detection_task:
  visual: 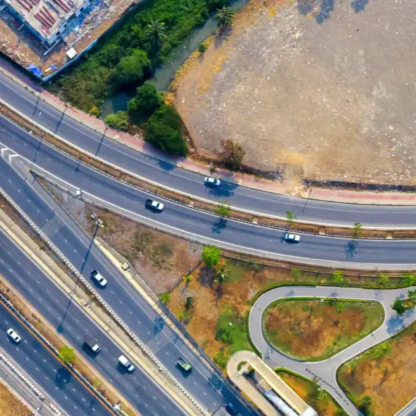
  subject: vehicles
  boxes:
[145,200,163,209]
[117,356,134,371]
[83,339,99,356]
[284,234,301,241]
[6,329,21,343]
[174,355,193,373]
[204,177,221,186]
[90,269,106,286]
[223,401,239,415]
